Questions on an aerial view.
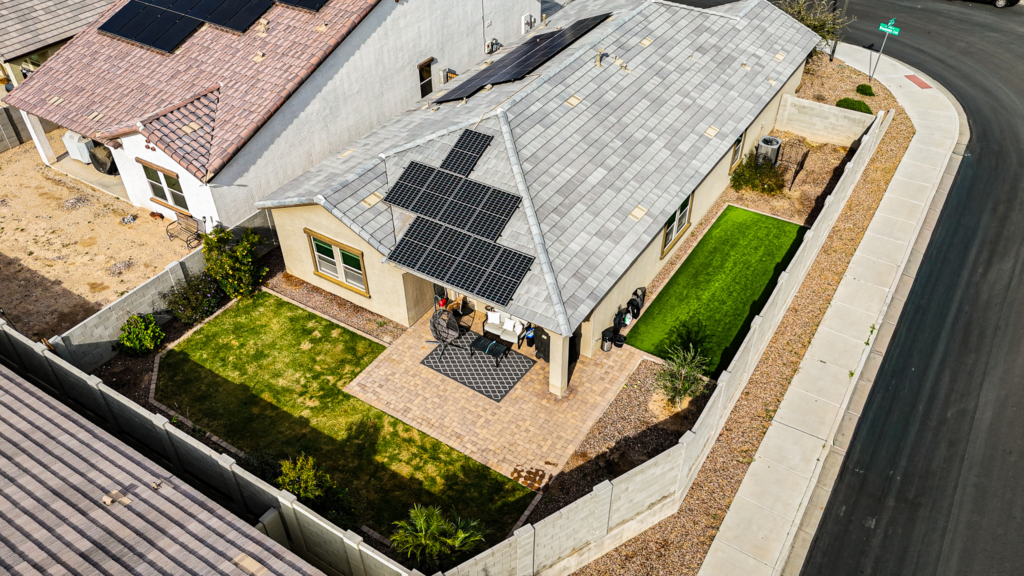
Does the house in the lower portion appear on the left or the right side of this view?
left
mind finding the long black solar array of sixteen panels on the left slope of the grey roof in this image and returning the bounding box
[429,9,617,104]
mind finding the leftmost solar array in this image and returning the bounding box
[95,0,328,51]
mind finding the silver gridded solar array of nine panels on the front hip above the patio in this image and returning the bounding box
[382,130,535,309]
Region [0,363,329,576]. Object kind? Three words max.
house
